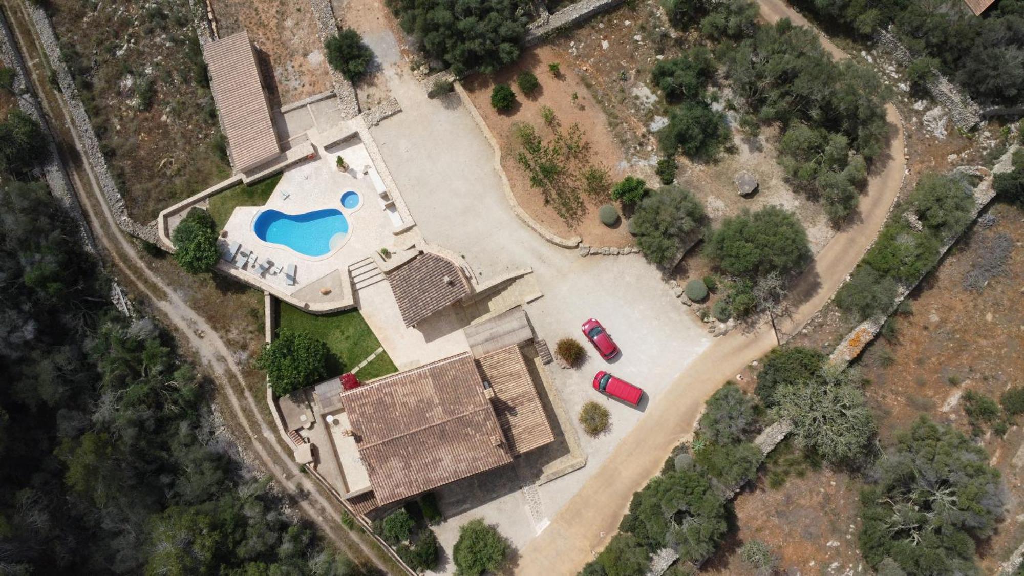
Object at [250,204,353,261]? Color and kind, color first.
blue swimming pool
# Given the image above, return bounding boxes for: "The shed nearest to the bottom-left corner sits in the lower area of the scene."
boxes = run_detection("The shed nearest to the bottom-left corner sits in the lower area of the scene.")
[297,442,321,465]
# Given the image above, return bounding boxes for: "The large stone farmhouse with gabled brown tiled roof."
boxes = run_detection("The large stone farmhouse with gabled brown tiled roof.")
[340,353,513,506]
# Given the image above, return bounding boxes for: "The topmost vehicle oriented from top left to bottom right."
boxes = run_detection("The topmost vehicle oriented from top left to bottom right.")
[582,317,620,363]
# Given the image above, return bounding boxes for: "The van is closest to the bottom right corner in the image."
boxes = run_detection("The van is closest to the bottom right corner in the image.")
[591,369,644,408]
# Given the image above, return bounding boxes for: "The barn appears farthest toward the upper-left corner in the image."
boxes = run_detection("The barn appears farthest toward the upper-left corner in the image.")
[203,30,287,178]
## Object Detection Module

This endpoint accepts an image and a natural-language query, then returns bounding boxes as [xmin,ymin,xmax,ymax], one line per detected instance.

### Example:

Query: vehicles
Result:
[591,369,644,408]
[582,317,620,363]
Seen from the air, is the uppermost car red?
Yes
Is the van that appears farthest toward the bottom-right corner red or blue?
red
